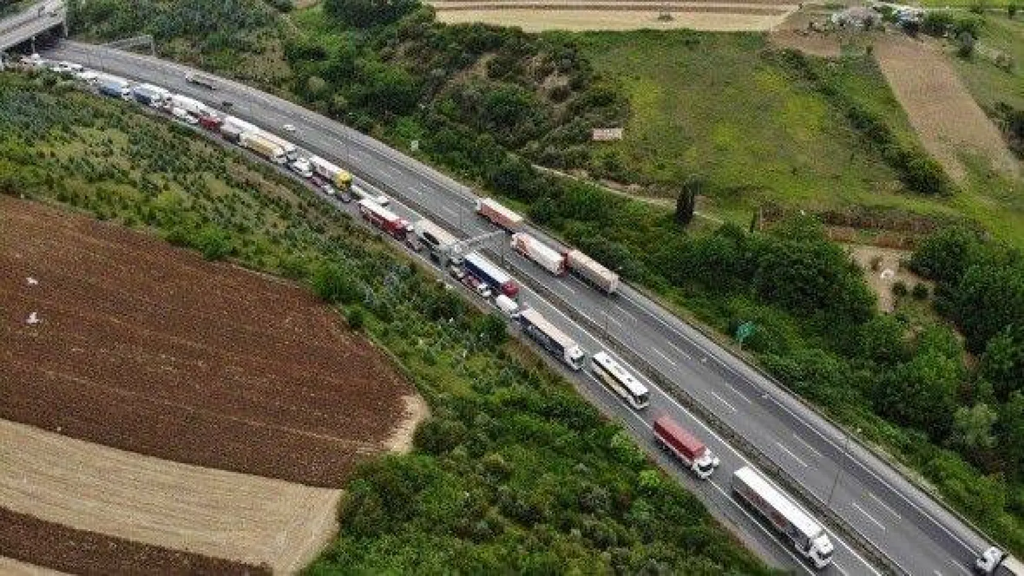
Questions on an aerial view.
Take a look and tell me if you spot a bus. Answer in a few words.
Yes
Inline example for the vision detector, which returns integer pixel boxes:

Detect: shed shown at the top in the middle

[594,127,622,141]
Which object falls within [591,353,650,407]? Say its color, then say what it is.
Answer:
white bus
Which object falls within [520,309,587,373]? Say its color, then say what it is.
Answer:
white truck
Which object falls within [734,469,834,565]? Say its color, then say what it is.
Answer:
white truck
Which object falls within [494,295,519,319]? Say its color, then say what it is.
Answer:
white vehicle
